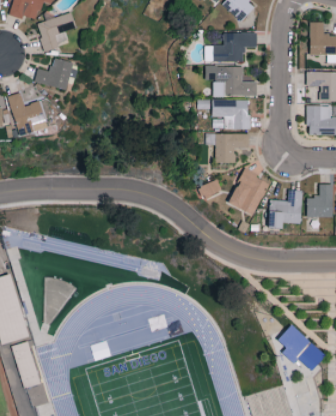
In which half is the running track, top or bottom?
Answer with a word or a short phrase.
bottom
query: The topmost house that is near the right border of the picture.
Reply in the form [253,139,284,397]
[310,22,336,64]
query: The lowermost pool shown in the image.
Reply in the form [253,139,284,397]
[187,37,204,64]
